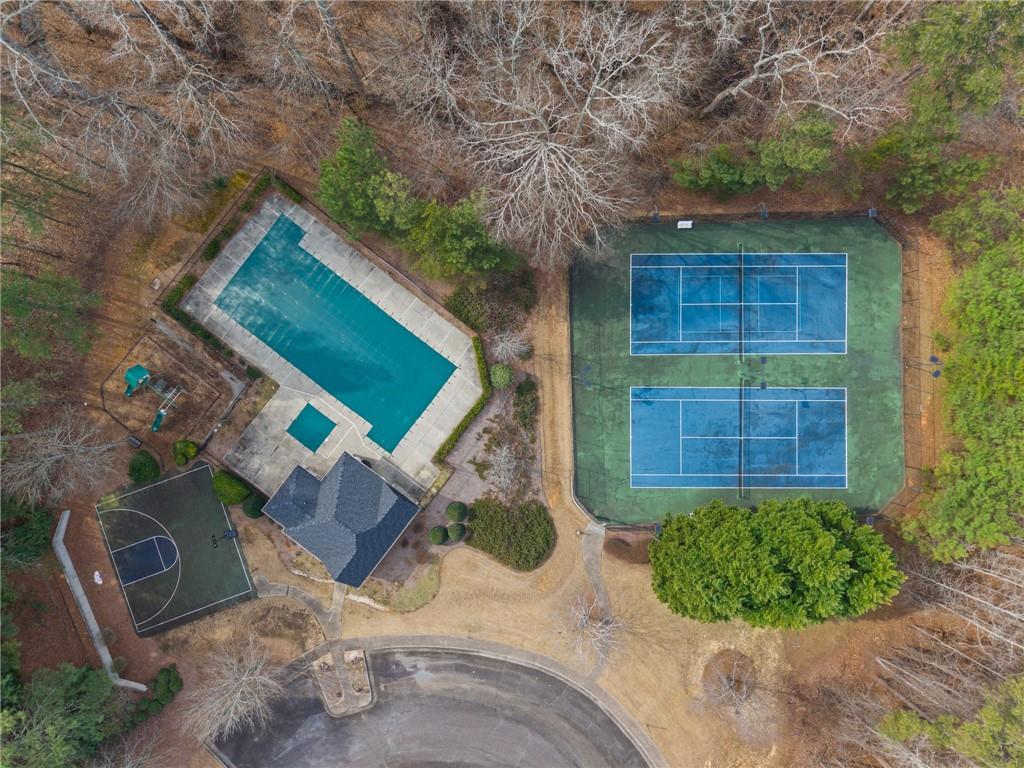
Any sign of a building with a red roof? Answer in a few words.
No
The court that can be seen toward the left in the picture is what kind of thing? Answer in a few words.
basketball court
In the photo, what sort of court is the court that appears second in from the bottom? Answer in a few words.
tennis court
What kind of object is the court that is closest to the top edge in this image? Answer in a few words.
tennis court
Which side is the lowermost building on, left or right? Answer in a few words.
left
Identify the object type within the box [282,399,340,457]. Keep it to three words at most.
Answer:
swimming pool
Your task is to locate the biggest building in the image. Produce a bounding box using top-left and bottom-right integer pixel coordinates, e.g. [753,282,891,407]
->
[258,452,422,587]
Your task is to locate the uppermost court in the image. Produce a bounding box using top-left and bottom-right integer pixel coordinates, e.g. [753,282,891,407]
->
[630,253,848,355]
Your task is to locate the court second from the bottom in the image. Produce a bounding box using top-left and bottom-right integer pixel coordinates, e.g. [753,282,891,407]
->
[630,387,848,489]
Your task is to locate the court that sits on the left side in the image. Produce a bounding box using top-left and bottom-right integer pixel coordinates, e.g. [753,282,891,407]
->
[94,460,258,637]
